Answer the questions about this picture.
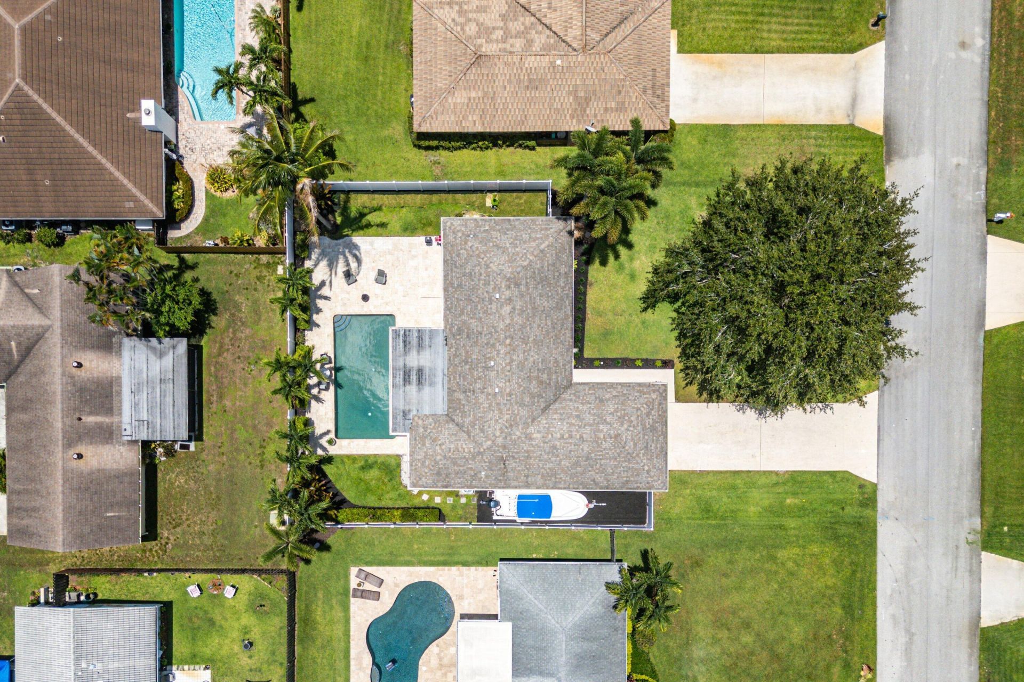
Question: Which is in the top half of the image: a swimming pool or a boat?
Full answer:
You can see a swimming pool in the top half of the image.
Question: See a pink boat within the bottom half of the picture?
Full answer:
No, there is no pink boat within the bottom half of the picture.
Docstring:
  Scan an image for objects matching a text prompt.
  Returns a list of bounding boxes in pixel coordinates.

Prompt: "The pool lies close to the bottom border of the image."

[363,578,458,682]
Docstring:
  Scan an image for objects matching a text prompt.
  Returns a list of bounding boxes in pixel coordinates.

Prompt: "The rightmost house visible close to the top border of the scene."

[411,0,672,138]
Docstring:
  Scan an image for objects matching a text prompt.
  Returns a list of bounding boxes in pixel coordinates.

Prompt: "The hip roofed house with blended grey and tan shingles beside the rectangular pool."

[388,216,669,491]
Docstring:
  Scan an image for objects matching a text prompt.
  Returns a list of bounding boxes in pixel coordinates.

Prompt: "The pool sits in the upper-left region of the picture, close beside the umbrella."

[170,0,239,124]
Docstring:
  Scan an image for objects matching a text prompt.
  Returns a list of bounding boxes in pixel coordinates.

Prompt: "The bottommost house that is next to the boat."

[456,561,628,682]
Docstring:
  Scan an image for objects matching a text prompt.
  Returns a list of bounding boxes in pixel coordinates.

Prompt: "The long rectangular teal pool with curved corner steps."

[330,310,400,443]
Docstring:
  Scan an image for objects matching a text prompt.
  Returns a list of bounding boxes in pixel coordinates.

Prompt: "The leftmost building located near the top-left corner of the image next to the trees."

[0,0,180,220]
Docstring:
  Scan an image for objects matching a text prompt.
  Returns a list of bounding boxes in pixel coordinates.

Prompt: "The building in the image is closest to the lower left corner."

[14,604,161,682]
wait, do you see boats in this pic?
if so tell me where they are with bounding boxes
[477,491,589,523]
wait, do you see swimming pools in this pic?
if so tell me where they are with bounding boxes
[170,0,239,124]
[330,310,400,443]
[363,578,458,682]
